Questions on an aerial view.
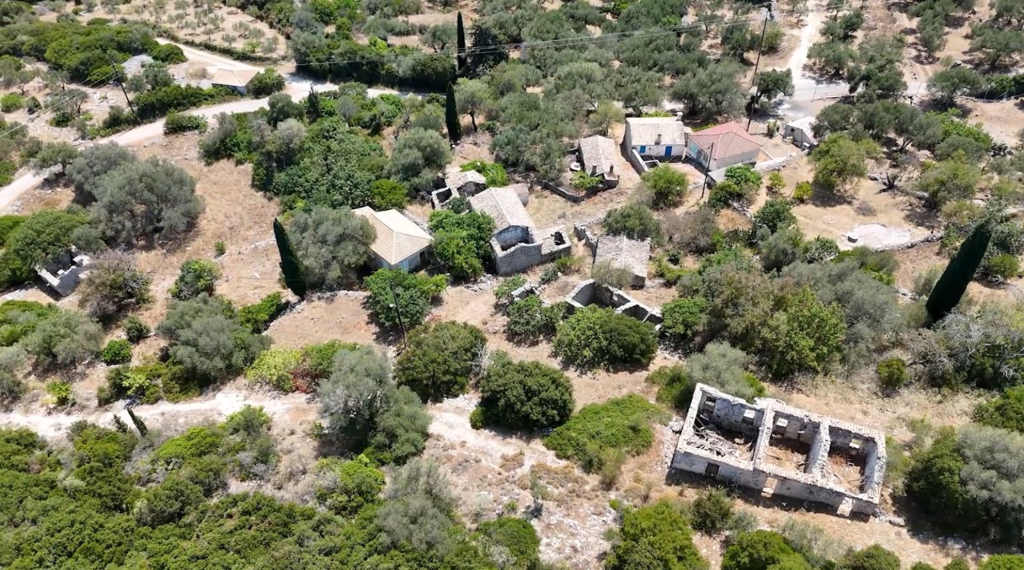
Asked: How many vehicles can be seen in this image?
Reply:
none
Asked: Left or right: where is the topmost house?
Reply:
left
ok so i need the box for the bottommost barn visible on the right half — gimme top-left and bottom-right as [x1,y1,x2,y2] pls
[589,234,654,290]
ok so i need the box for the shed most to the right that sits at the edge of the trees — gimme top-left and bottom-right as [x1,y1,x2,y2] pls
[784,118,831,152]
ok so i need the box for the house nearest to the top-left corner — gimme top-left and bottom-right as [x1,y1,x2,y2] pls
[211,66,263,99]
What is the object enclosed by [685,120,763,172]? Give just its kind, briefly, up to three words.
house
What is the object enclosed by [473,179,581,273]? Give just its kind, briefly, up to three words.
house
